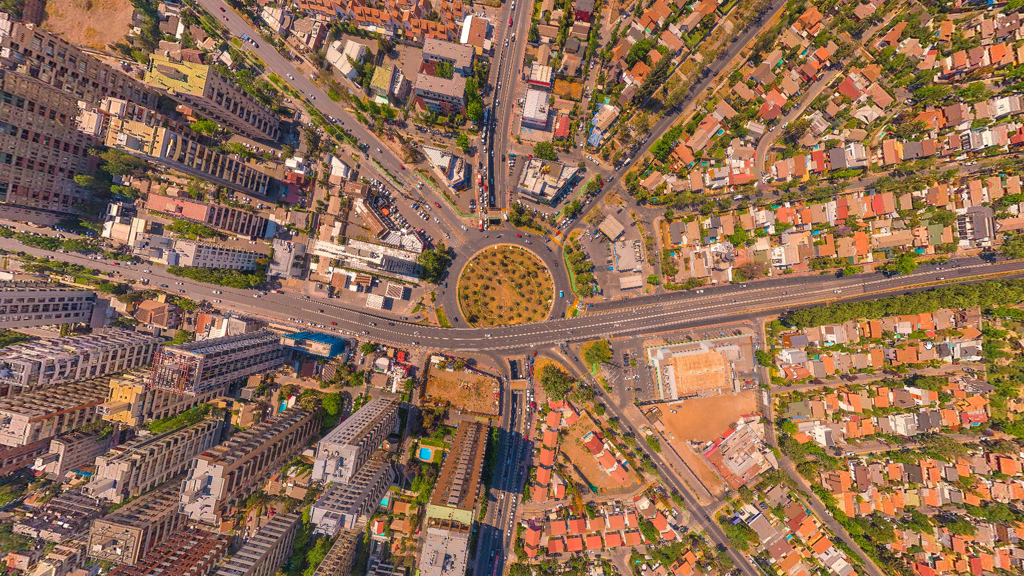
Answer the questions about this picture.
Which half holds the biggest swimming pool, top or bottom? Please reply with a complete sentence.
You can find the biggest swimming pool in the bottom half.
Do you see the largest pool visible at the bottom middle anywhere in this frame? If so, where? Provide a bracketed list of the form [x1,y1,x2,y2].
[414,443,435,465]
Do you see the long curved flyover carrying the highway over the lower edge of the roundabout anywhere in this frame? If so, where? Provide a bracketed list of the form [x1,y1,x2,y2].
[252,252,1024,350]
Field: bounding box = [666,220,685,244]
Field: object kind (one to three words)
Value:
house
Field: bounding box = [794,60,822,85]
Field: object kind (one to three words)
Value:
house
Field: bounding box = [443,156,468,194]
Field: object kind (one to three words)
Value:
building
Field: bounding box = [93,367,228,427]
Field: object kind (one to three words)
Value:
building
